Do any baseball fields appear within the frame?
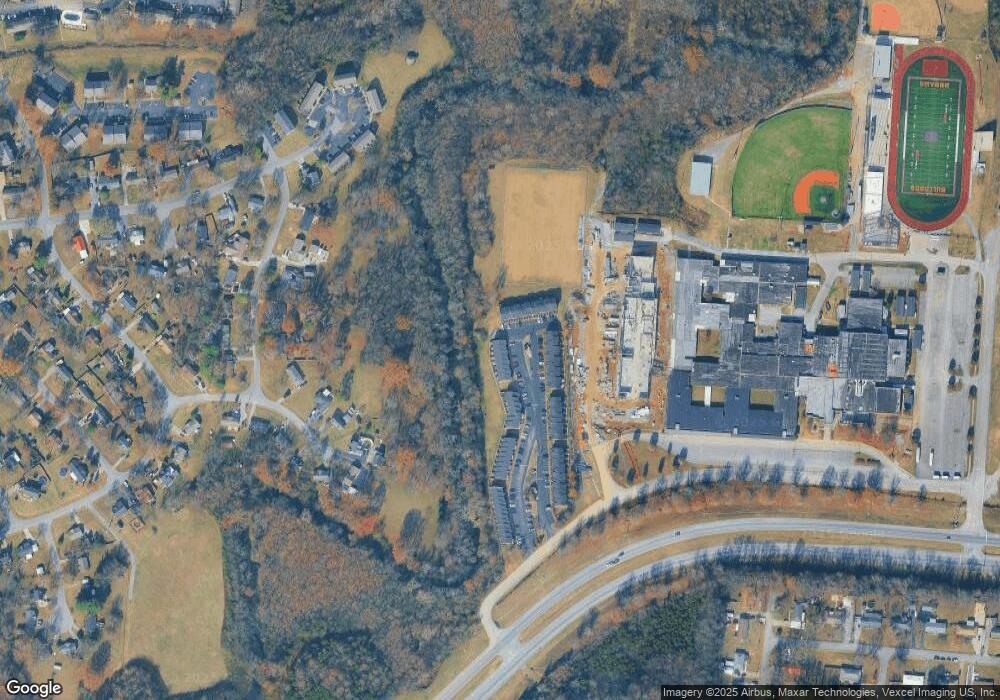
Yes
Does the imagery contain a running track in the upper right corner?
Yes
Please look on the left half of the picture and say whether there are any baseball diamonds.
No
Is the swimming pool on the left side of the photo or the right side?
left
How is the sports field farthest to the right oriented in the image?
from top to bottom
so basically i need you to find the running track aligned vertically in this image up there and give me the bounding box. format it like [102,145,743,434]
[887,44,976,231]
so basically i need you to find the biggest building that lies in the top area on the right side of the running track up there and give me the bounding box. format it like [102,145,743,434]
[975,131,996,149]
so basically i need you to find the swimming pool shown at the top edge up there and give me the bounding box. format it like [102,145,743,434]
[62,10,86,29]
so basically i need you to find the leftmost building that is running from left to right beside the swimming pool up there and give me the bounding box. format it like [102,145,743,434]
[4,11,61,31]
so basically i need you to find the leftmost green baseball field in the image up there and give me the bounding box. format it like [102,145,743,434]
[732,106,851,222]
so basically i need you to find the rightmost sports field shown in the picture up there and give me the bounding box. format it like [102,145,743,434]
[895,56,968,223]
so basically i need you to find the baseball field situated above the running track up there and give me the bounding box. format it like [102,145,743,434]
[872,3,900,31]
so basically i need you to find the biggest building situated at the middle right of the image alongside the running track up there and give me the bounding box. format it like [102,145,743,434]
[666,259,908,438]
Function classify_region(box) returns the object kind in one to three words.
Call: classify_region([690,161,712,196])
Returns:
barn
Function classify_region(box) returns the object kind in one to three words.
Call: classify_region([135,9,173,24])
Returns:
building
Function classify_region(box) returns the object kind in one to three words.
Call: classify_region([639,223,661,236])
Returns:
shed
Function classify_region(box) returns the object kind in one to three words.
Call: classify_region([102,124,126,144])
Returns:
house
